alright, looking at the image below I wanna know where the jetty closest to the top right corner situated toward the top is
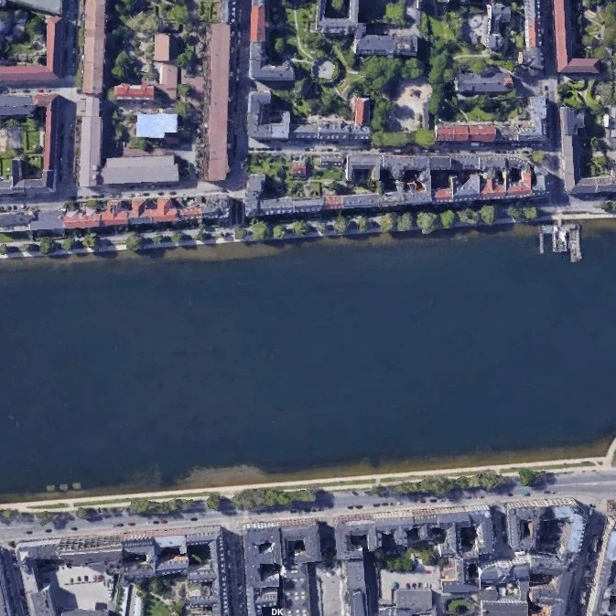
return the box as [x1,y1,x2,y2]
[539,220,582,262]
